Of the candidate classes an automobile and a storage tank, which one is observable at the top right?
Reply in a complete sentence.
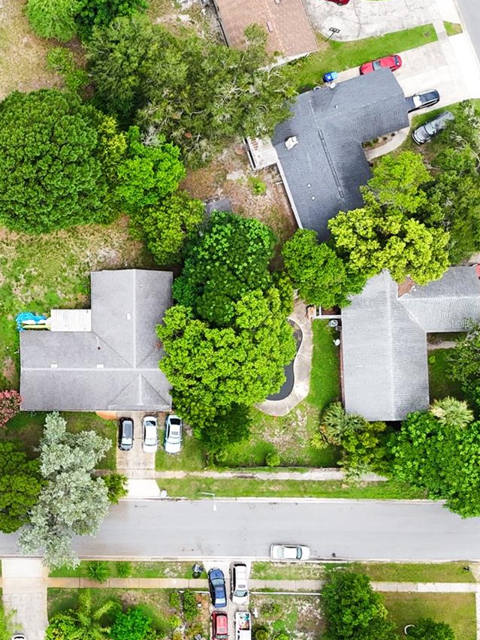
Visible at the top right is an automobile.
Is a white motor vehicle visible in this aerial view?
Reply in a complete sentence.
Yes, there's a white motor vehicle down there.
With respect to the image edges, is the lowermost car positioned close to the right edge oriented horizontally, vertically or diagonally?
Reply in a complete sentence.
In this picture, the lowermost car positioned close to the right edge is oriented diagonally.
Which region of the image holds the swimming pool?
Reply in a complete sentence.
The swimming pool is in the center part of the image.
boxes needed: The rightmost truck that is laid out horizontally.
[405,86,447,109]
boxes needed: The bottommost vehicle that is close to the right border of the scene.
[414,108,458,141]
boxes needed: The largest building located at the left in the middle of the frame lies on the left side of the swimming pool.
[21,269,174,411]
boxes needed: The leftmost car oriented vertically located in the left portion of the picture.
[120,417,137,452]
